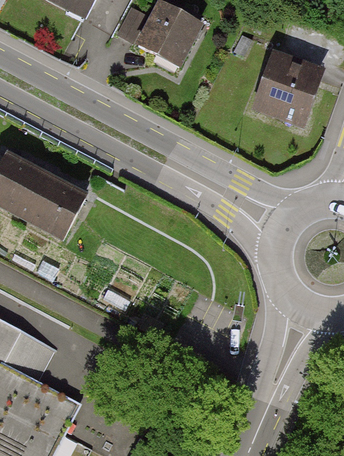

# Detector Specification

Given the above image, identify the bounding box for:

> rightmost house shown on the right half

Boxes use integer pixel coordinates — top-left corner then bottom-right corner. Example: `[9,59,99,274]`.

[253,48,326,129]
